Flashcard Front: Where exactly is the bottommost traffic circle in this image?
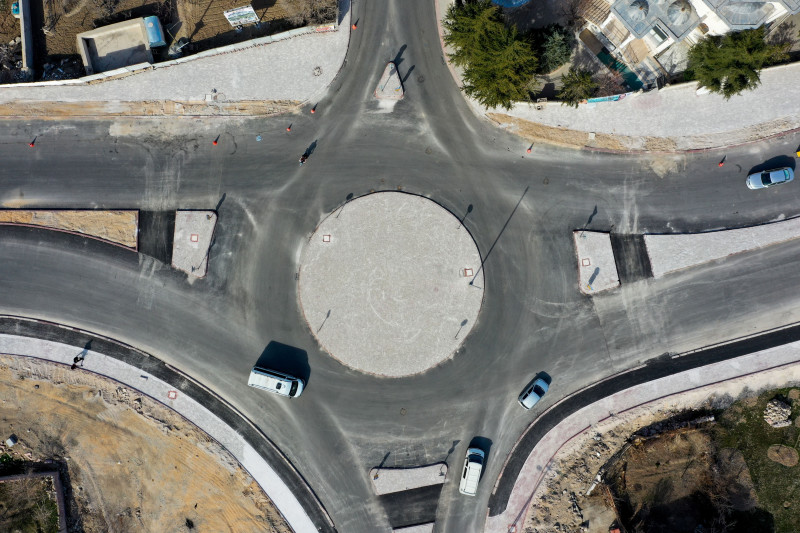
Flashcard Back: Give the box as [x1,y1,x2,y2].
[298,191,484,377]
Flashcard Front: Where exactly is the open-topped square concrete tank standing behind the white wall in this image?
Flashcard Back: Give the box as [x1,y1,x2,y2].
[77,18,159,84]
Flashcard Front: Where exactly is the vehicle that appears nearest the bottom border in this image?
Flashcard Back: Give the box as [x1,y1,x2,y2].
[459,448,484,494]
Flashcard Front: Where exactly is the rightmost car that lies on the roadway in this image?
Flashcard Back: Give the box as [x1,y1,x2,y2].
[745,166,795,191]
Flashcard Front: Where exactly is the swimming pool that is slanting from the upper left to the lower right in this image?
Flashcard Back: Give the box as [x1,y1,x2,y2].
[577,25,649,91]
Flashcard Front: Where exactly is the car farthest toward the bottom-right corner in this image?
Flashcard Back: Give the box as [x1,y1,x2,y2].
[517,377,549,410]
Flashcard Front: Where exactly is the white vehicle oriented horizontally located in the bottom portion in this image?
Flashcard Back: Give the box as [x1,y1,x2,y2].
[249,366,305,399]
